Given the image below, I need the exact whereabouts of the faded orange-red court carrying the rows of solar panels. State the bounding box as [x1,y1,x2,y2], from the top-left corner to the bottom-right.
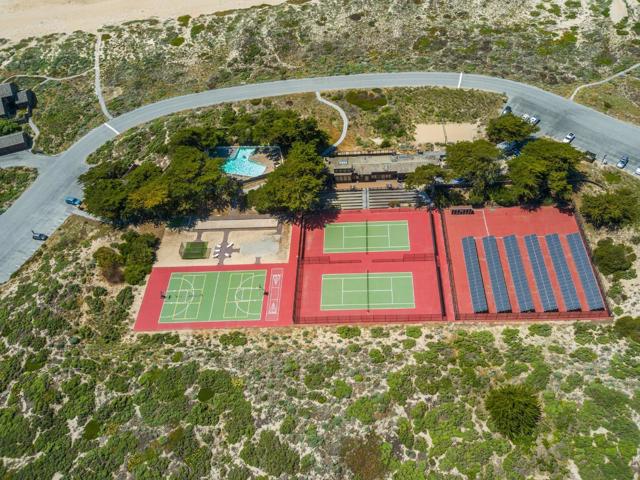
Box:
[444,204,615,322]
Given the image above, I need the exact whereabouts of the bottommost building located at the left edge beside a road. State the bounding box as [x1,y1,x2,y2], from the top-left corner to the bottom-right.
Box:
[0,129,32,162]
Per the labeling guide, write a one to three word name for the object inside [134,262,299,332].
basketball court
